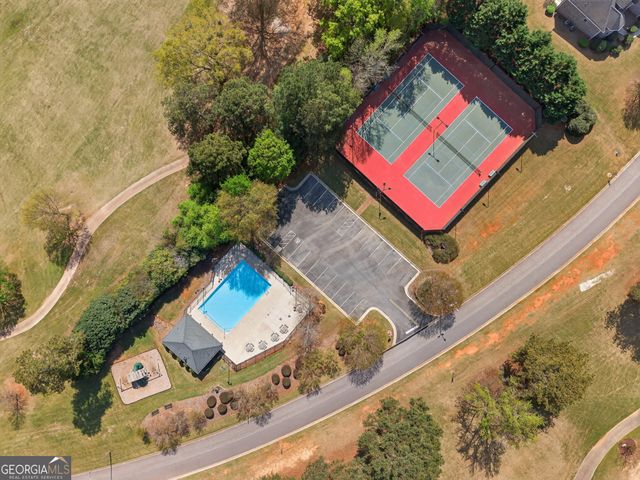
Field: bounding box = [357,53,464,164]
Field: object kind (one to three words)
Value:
tennis court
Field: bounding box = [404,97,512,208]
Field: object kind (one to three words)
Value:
tennis court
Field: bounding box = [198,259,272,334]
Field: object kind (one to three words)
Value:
swimming pool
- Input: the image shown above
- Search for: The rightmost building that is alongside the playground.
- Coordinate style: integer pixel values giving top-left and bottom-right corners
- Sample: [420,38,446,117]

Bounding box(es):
[162,314,223,376]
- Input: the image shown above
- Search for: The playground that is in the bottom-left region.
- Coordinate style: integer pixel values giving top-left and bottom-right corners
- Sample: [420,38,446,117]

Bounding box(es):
[111,349,171,405]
